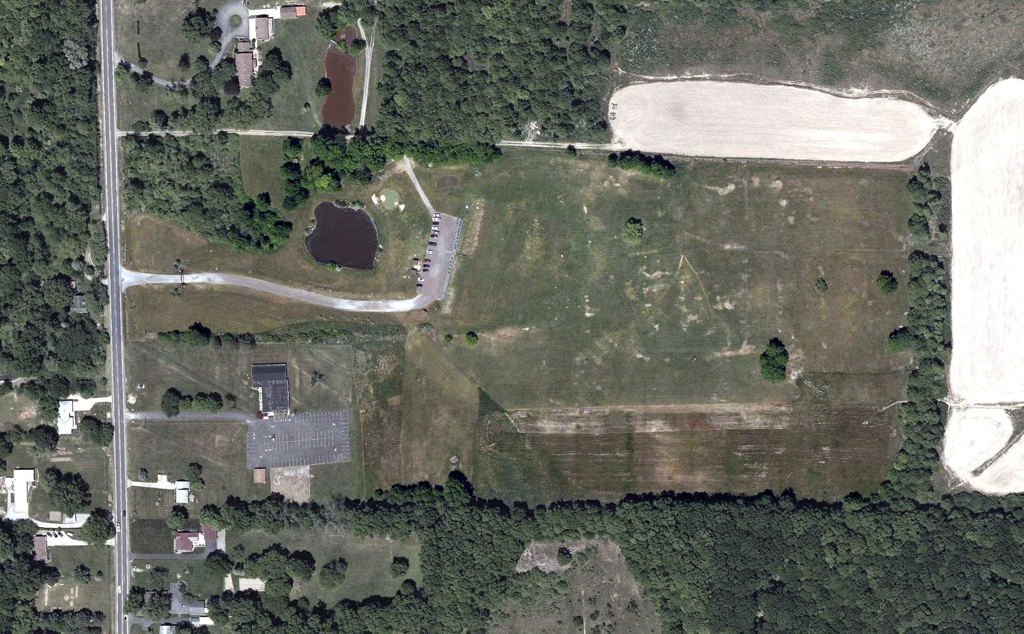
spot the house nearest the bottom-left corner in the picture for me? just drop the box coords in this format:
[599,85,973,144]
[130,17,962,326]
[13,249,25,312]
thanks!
[33,535,47,562]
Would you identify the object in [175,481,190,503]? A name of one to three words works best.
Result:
house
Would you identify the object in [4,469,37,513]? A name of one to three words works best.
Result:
house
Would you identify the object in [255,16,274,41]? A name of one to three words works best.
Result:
building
